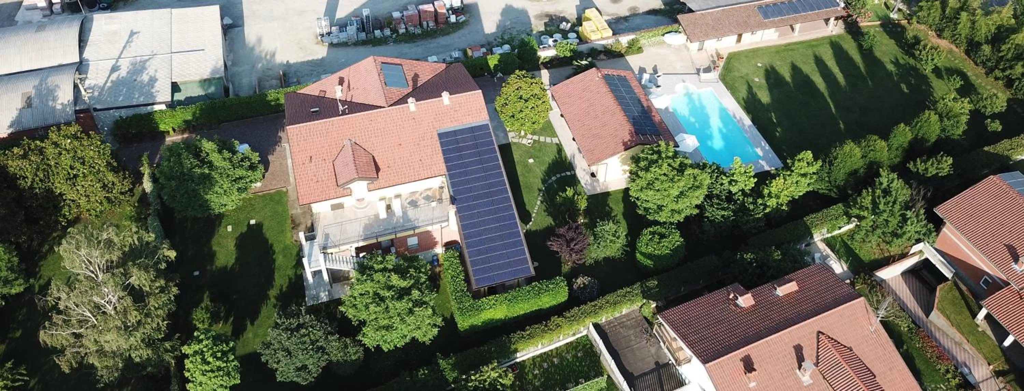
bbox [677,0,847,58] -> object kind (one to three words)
building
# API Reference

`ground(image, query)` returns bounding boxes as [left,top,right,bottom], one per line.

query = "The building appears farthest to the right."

[924,173,1024,357]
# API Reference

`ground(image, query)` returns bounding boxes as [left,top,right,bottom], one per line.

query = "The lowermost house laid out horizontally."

[651,256,928,391]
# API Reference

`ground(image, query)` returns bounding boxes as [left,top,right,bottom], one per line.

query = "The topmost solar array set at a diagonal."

[605,71,660,136]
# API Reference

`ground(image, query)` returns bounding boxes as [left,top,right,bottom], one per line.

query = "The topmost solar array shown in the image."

[757,0,841,21]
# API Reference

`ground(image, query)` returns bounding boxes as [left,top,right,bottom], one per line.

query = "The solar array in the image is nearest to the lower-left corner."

[435,120,540,290]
